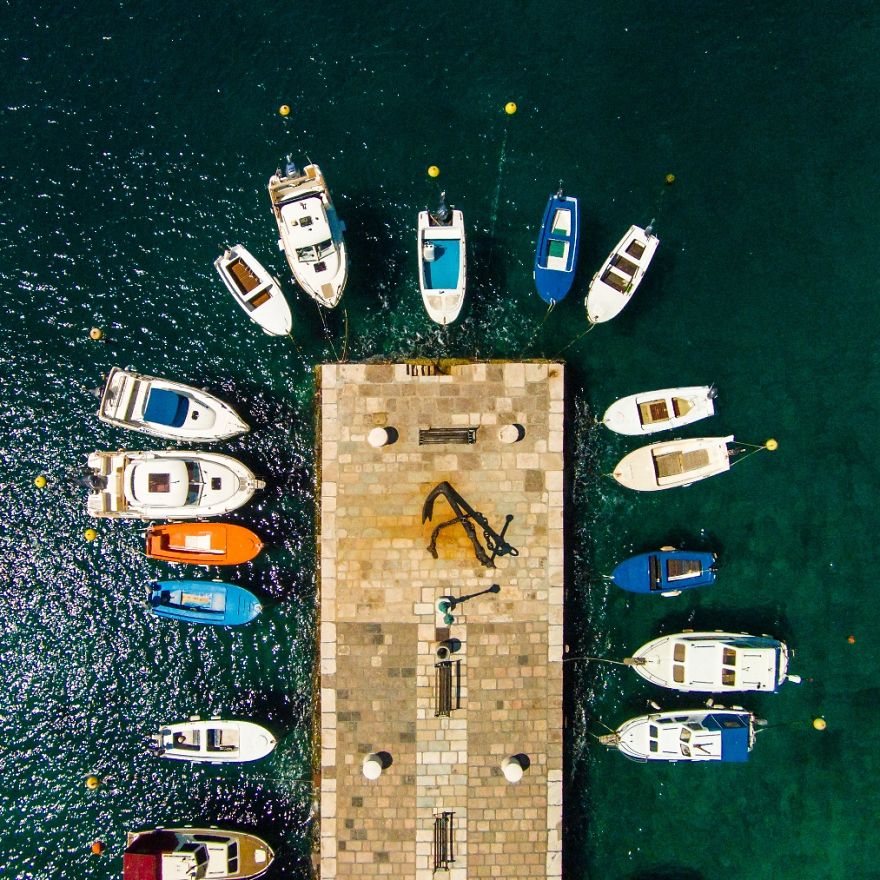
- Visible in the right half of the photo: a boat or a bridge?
boat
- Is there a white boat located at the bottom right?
Yes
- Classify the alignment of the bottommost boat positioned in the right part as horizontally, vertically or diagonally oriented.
horizontally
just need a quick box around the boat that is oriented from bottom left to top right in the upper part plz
[558,217,663,361]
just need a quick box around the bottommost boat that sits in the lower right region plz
[565,700,814,765]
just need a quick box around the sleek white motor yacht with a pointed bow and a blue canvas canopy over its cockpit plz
[88,368,250,442]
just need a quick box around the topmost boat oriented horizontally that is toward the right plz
[563,384,730,435]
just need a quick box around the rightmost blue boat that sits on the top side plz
[528,183,580,361]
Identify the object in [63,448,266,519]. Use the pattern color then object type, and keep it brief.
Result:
white boat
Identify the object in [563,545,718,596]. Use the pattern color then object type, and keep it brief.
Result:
blue boat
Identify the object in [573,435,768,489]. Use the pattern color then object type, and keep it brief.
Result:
white boat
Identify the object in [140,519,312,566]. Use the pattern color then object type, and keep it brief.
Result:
orange boat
